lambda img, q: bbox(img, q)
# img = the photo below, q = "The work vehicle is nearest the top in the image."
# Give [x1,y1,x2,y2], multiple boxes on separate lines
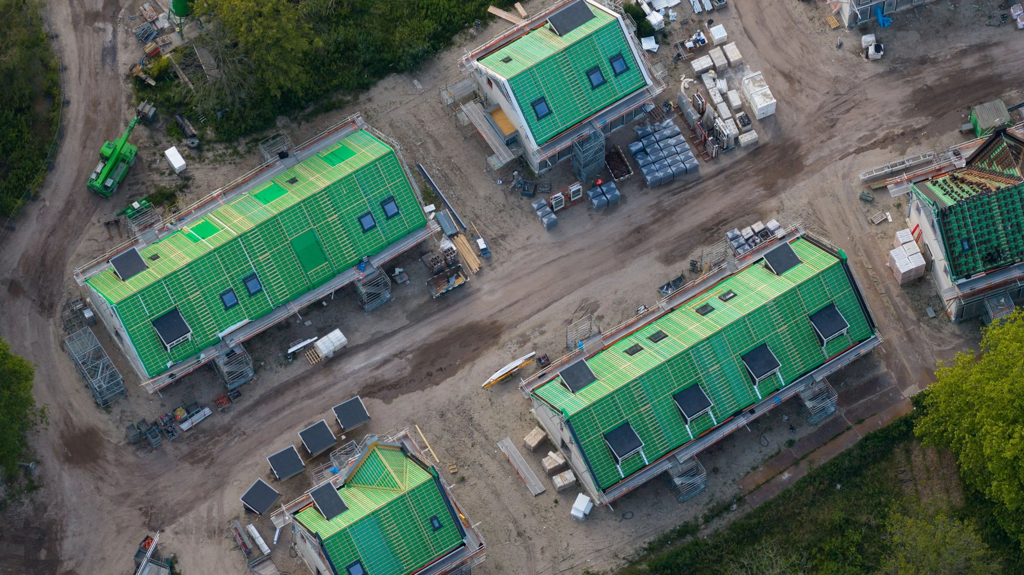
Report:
[86,101,155,199]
